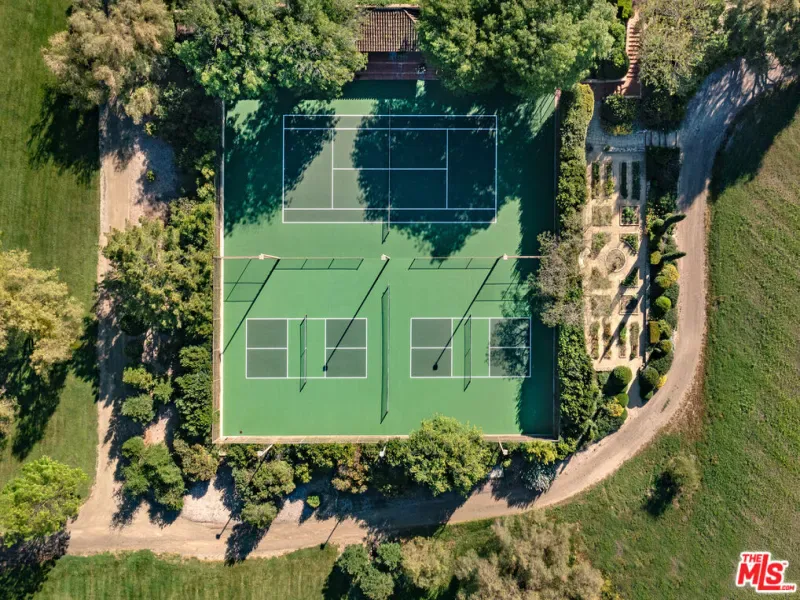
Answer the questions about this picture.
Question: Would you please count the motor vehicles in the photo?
0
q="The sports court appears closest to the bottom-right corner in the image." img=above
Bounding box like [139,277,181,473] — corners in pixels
[388,258,555,436]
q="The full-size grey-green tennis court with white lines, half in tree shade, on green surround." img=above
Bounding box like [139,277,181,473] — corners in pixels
[223,78,555,258]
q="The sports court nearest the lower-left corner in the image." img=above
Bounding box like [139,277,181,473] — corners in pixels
[223,258,388,436]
